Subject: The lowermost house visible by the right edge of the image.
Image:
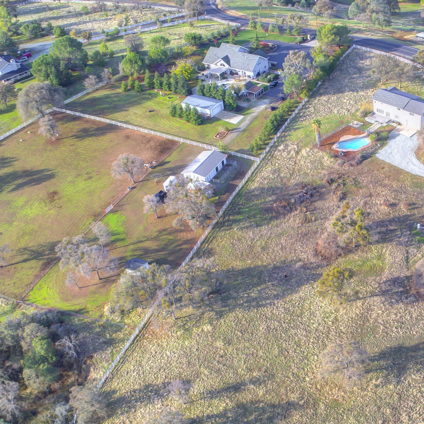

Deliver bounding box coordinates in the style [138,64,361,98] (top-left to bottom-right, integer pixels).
[372,84,424,128]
